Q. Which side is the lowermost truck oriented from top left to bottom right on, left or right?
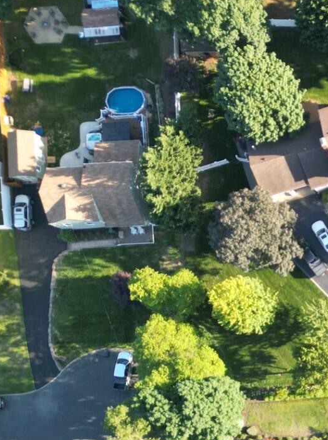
right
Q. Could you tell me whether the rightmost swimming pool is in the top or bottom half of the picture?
top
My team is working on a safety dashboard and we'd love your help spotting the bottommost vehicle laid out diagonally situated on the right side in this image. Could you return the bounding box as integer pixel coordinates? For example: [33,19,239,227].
[296,242,328,283]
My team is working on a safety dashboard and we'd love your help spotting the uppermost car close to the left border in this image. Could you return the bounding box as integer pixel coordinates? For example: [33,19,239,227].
[13,195,34,231]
